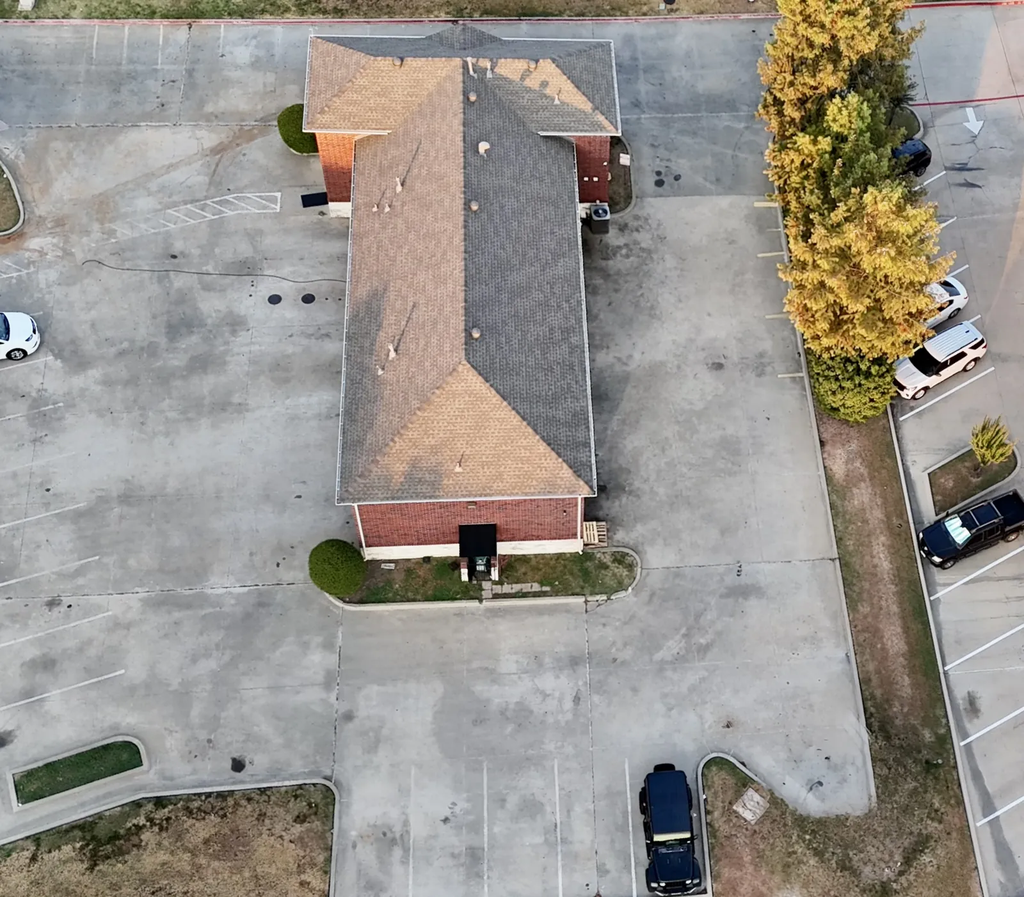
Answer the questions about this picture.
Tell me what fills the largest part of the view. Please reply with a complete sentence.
What you mostly see from above here is paved ground.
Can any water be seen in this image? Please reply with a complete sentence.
No, the scene doesn't show any water.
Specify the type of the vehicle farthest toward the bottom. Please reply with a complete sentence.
What you see as the vehicle farthest toward the bottom is an automobile.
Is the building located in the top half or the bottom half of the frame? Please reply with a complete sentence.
You can find the building in the top half.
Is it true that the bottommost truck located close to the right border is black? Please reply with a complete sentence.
Yes, the bottommost truck located close to the right border is indeed black.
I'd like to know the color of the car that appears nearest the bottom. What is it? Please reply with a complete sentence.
The color of the car that appears nearest the bottom is black.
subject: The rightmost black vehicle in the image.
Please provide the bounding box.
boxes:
[912,486,1024,570]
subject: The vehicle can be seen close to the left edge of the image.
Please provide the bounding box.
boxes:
[0,317,40,362]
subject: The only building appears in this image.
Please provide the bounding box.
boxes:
[303,21,621,579]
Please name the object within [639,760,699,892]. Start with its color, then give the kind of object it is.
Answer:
black car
